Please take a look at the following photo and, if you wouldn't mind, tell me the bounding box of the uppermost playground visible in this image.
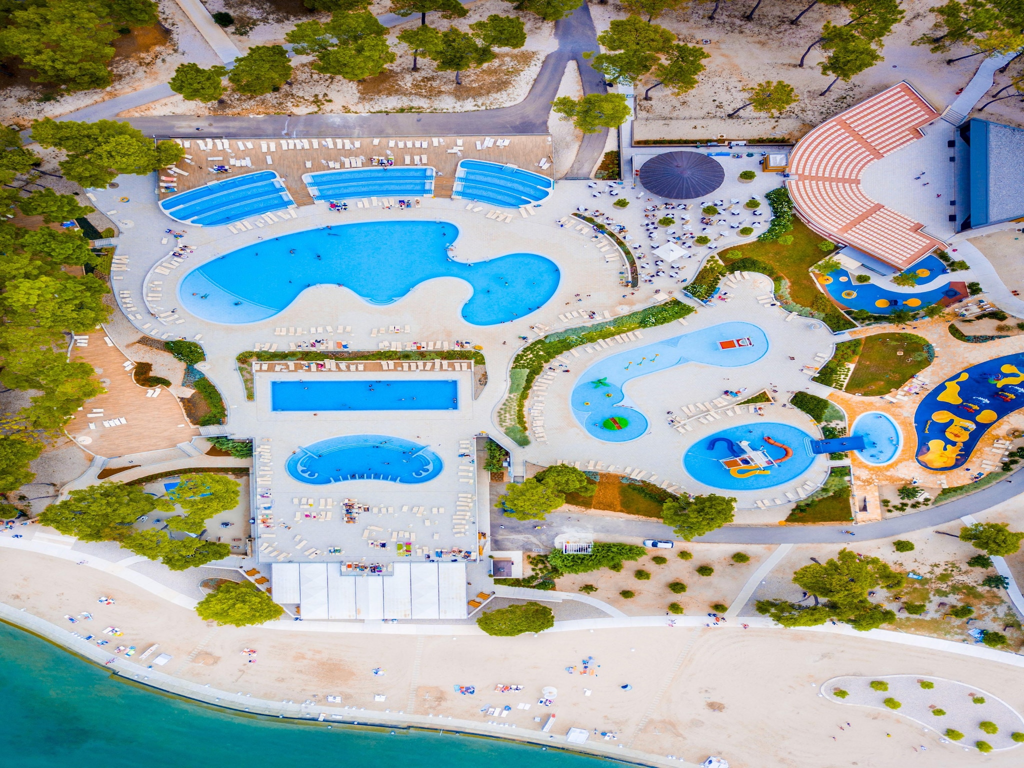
[810,255,969,316]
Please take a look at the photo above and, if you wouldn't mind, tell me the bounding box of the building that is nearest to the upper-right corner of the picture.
[953,106,1024,235]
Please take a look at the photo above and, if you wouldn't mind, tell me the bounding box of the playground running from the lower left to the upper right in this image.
[914,352,1024,471]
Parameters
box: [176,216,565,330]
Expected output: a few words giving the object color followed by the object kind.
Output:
blue swimming pool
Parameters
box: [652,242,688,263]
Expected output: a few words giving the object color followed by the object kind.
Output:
white umbrella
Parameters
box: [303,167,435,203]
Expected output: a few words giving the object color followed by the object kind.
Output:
blue swimming pool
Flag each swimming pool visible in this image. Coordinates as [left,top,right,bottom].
[680,418,823,494]
[283,431,447,487]
[160,170,296,227]
[266,377,462,414]
[568,318,772,445]
[303,167,435,203]
[451,160,553,209]
[176,216,565,330]
[851,409,905,469]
